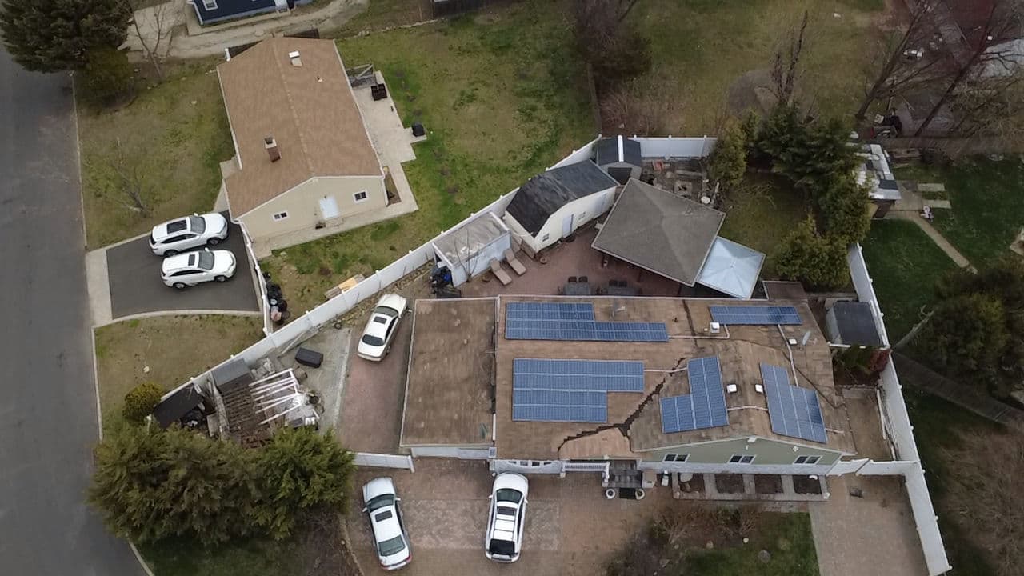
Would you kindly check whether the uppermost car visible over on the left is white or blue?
white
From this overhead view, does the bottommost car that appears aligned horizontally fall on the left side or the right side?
left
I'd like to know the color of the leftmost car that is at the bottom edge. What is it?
white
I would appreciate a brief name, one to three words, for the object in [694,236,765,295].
gazebo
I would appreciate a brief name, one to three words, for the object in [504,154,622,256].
shed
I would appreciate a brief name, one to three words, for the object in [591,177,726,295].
building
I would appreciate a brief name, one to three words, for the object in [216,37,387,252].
house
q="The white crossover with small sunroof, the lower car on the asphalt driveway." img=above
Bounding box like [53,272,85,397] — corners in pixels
[161,249,238,291]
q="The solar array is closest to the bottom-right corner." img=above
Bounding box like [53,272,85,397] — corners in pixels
[760,363,827,443]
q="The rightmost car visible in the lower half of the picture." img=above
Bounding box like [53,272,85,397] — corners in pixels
[483,472,529,570]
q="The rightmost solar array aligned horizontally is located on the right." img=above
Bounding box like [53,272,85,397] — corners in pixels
[709,306,802,325]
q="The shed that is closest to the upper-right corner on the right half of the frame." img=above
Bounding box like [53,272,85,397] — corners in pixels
[850,143,902,218]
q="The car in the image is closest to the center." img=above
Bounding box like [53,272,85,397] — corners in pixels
[356,294,406,364]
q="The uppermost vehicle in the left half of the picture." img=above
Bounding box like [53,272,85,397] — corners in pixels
[152,216,229,258]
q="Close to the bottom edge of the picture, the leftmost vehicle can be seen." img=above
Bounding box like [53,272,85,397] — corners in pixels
[361,476,415,576]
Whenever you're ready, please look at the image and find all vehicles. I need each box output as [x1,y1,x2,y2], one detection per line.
[483,472,529,570]
[161,249,238,291]
[361,476,415,576]
[152,216,229,258]
[356,294,406,364]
